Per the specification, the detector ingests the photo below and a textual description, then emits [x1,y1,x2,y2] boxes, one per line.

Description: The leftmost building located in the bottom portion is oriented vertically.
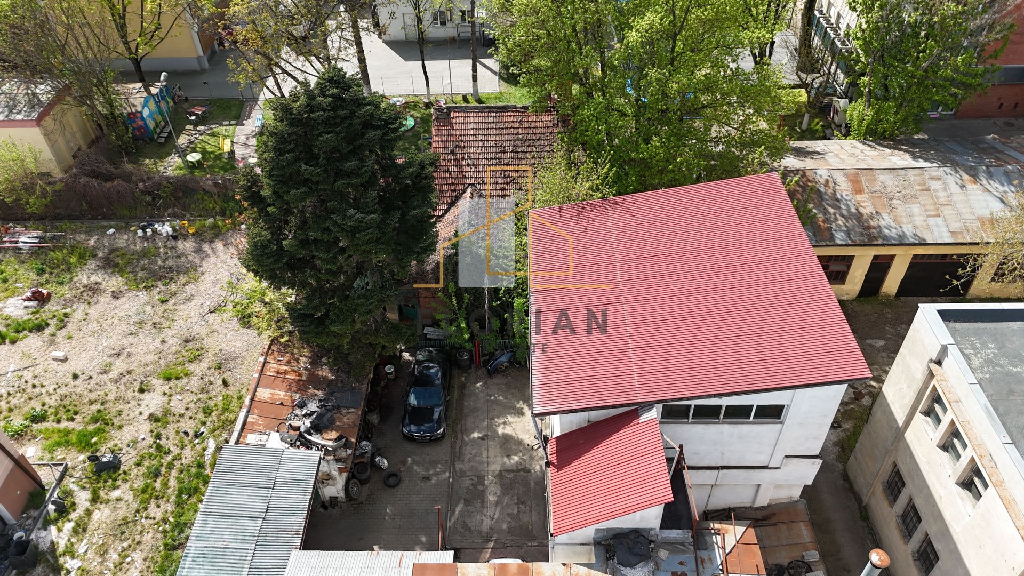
[0,423,44,527]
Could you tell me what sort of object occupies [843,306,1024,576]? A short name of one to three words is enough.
building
